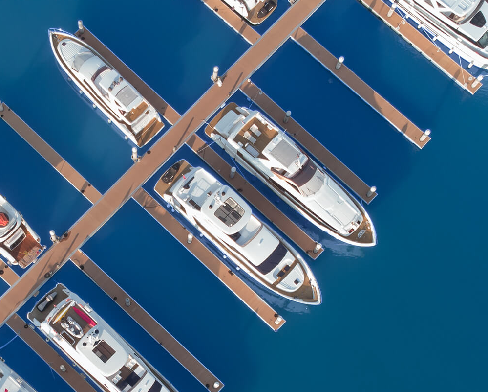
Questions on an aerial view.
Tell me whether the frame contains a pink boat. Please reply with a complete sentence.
Yes, a pink boat appears in the view.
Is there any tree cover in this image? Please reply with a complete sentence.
No, the scene doesn't show any tree cover.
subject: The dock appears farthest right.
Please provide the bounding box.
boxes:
[362,0,483,94]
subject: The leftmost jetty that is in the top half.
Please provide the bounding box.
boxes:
[0,102,102,204]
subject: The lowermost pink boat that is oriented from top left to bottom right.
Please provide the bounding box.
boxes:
[73,308,95,327]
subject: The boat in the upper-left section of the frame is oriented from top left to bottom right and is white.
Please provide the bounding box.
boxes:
[47,28,164,149]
